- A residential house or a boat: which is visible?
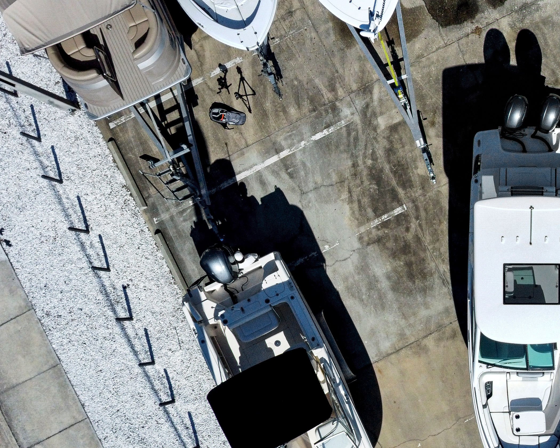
boat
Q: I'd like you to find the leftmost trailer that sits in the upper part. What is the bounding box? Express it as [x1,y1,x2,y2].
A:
[129,85,229,242]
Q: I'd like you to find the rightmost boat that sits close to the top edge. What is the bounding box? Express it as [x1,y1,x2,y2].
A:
[322,0,399,42]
